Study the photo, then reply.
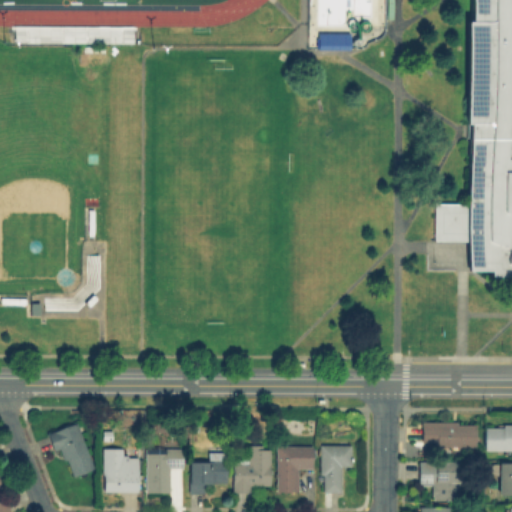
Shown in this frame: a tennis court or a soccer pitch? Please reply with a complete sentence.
The one in the frame is a soccer pitch.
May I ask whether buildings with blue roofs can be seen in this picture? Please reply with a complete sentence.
Yes, there is a building with a blue roof in the image.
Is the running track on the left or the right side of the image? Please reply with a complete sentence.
The running track is on the left side of the image.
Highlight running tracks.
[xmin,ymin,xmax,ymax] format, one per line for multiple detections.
[0,0,267,27]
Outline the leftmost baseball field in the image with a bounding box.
[0,178,108,323]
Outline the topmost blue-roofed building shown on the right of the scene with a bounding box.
[317,32,352,50]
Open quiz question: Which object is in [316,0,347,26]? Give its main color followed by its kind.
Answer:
white swimming pool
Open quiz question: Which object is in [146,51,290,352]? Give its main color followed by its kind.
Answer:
green soccer field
